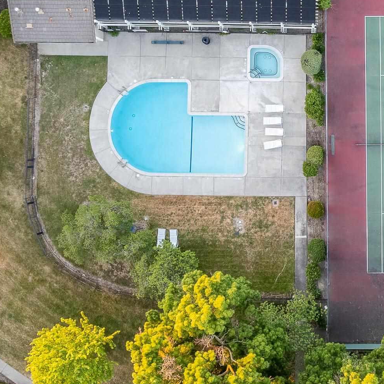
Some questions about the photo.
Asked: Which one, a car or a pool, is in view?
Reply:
pool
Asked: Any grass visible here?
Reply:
Yes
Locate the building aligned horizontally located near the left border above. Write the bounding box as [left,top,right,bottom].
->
[8,0,109,43]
